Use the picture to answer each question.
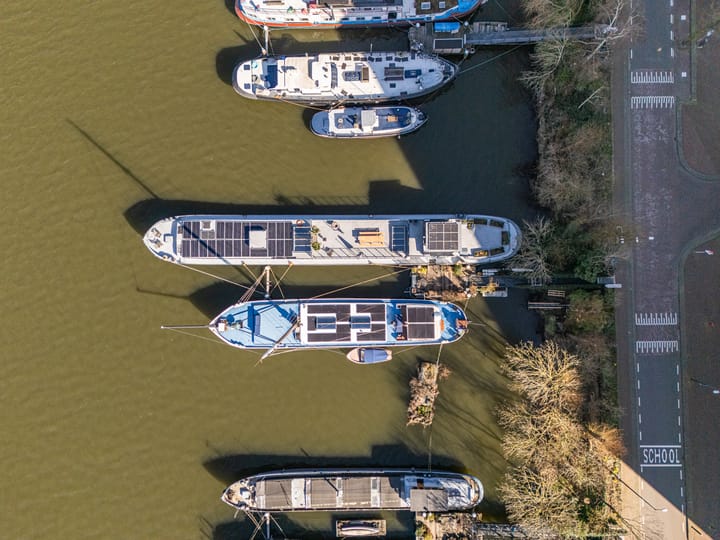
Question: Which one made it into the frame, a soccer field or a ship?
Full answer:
There is a ship in the scene.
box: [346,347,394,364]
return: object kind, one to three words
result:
boat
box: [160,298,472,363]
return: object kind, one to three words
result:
ship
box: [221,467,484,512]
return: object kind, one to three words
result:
boat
